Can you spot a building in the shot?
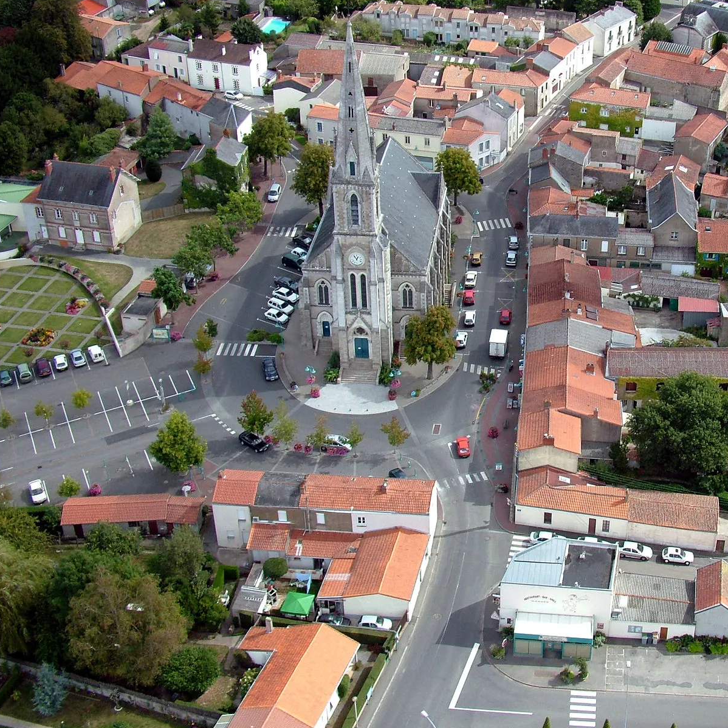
Yes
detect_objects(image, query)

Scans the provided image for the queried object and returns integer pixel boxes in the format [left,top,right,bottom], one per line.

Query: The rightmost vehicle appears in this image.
[661,547,694,566]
